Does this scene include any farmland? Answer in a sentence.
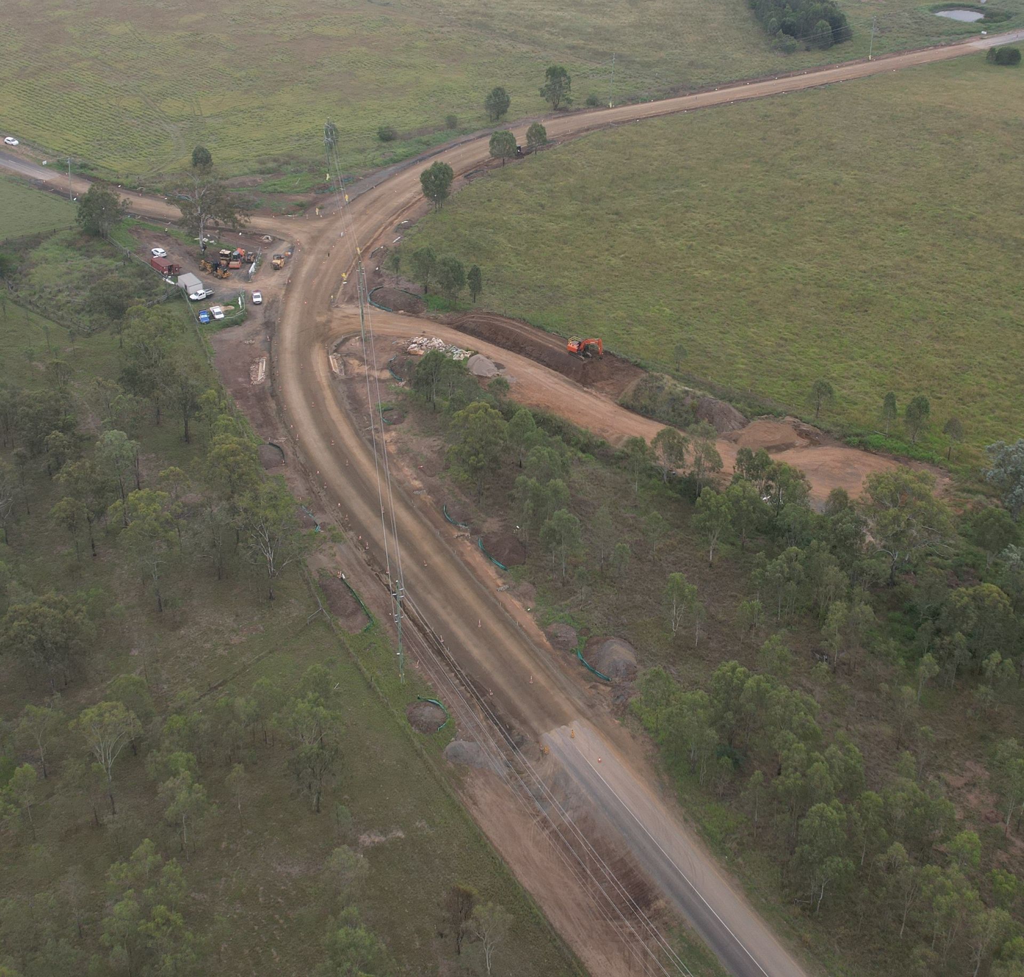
Yes, there is farmland in the image.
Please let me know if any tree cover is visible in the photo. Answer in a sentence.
Yes, there's tree cover in this view.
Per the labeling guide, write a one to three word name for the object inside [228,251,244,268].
work vehicle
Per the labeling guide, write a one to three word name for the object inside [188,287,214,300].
vehicle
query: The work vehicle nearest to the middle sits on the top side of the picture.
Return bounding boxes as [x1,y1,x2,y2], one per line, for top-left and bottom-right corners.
[569,338,604,366]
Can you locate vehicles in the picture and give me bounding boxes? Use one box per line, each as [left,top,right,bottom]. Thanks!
[198,307,209,323]
[188,287,214,300]
[245,251,256,265]
[569,338,604,366]
[270,250,285,267]
[4,137,19,146]
[149,247,168,257]
[209,304,225,319]
[218,248,229,265]
[251,289,262,304]
[228,251,244,268]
